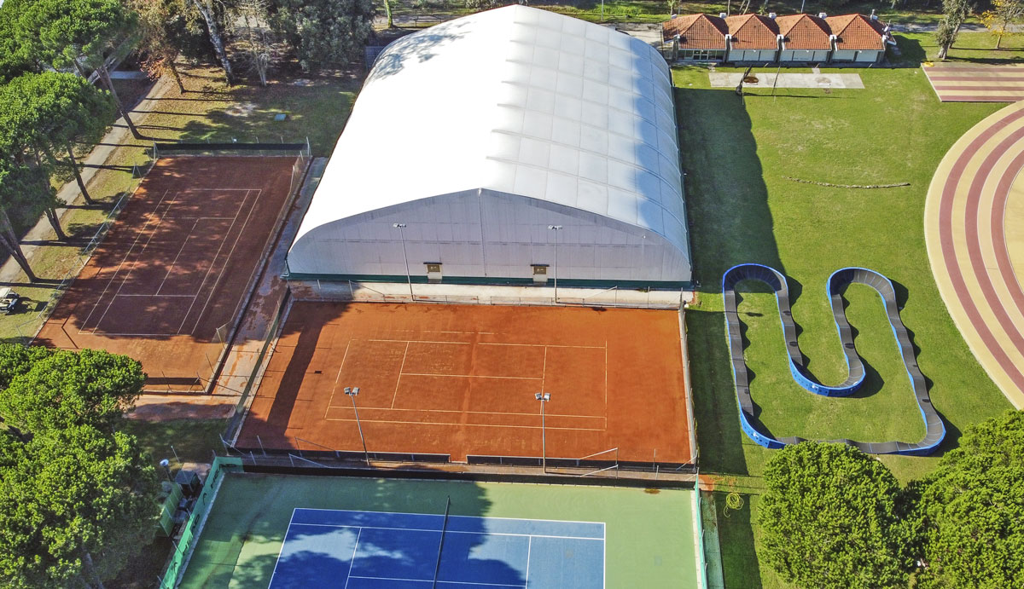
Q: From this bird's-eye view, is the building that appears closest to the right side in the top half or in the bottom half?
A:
top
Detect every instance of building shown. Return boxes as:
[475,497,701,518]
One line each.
[283,4,704,290]
[658,4,904,65]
